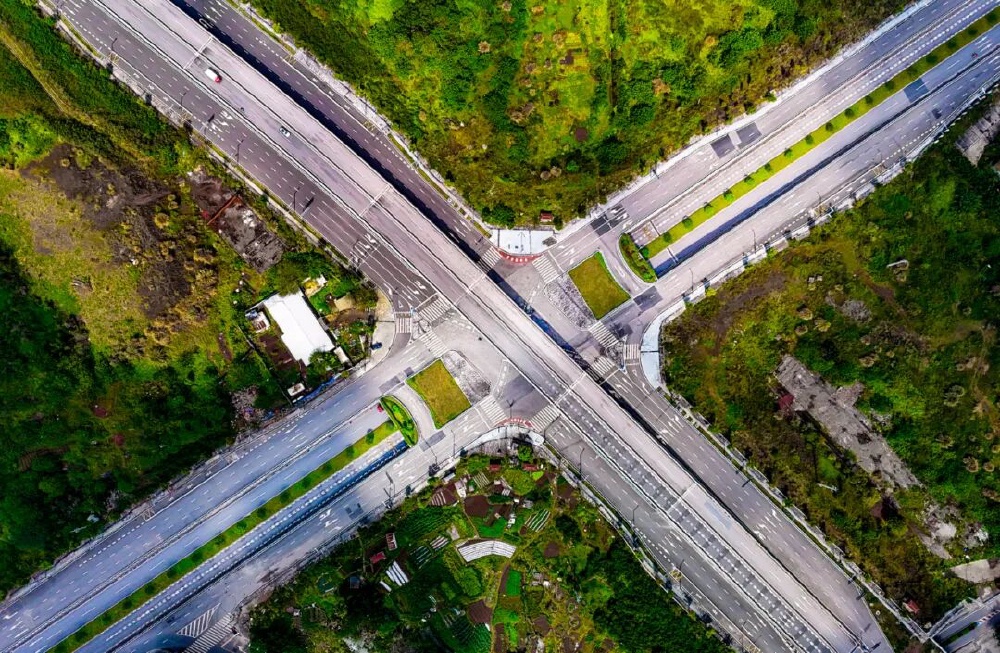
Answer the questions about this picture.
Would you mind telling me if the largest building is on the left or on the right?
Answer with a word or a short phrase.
left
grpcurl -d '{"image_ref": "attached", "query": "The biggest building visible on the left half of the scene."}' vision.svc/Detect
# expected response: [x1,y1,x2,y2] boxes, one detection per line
[268,288,335,364]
